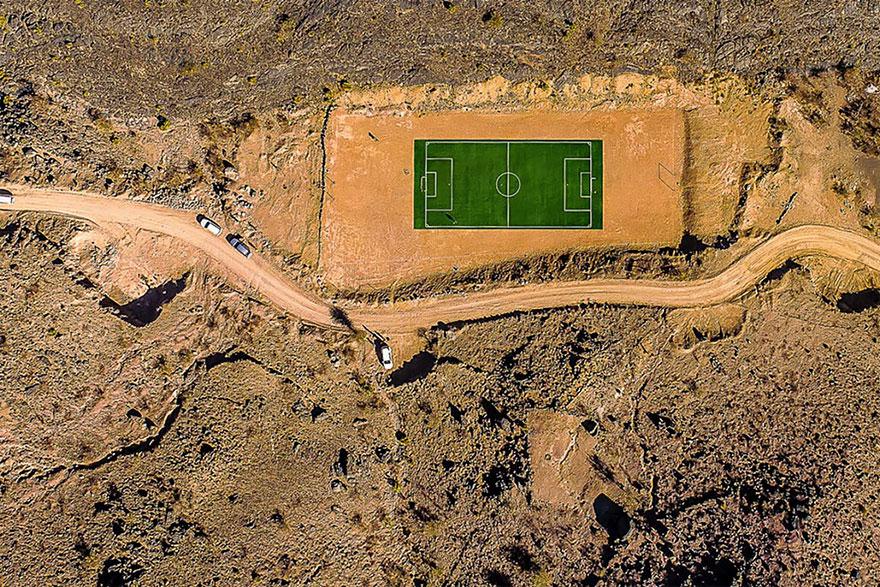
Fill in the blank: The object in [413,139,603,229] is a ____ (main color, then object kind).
green soccer field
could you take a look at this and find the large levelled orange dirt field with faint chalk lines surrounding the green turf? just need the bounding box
[321,107,687,287]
